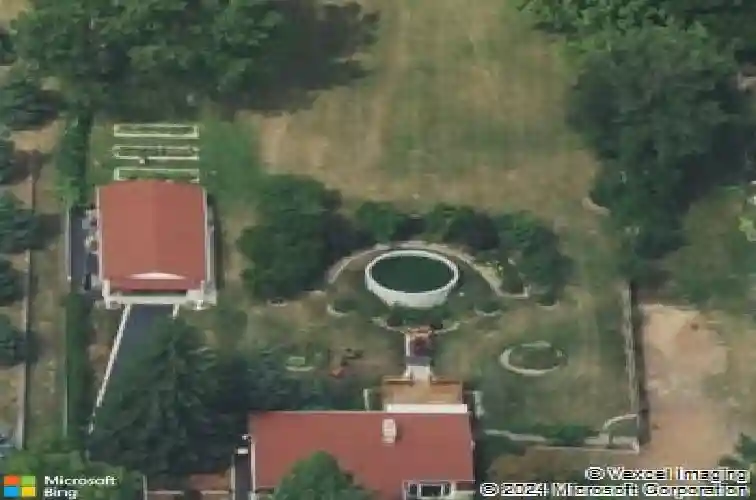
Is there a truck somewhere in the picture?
No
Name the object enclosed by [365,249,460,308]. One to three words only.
swimming pool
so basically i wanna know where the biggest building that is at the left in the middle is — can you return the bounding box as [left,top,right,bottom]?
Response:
[102,179,210,312]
